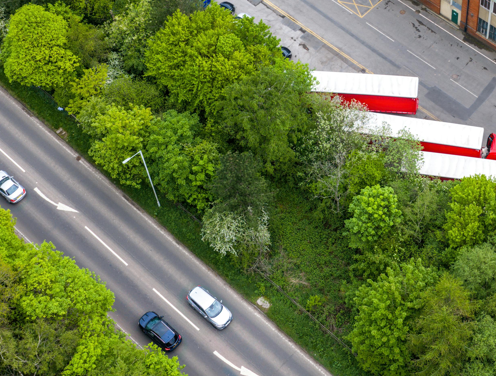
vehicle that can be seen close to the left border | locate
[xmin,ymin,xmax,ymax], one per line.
[0,170,27,205]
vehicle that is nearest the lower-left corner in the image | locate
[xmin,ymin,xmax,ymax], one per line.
[139,311,181,352]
